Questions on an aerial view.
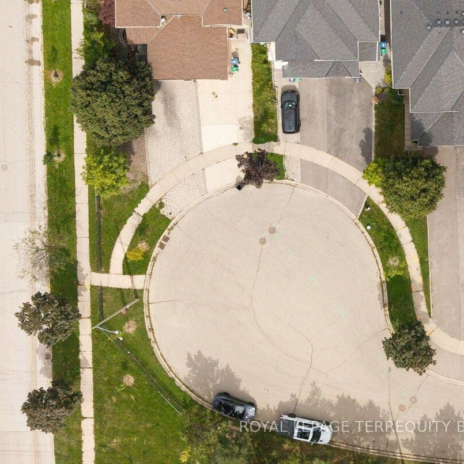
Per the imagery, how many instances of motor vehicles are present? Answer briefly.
3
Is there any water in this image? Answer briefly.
No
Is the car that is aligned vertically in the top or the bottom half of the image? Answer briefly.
top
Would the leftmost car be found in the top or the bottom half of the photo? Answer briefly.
bottom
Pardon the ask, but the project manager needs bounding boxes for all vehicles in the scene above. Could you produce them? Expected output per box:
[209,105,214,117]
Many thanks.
[213,391,259,419]
[277,415,334,445]
[279,90,300,134]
